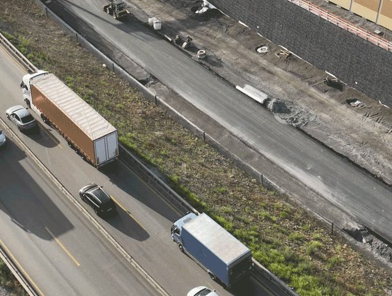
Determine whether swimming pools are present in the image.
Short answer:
No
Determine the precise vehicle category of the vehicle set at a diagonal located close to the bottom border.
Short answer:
truck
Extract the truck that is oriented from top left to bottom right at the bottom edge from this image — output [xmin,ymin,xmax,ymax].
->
[167,204,249,285]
